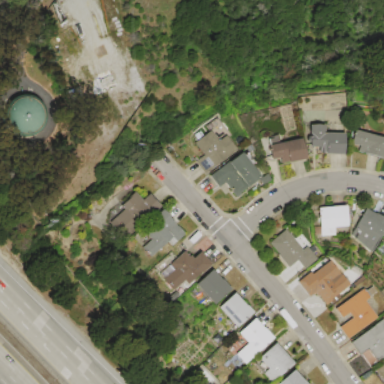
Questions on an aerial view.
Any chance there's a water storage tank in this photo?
Yes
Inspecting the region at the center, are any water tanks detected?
No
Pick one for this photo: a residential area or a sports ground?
residential area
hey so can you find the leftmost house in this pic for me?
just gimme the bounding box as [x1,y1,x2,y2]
[110,192,164,231]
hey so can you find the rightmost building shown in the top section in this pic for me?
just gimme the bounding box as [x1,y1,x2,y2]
[350,128,384,157]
